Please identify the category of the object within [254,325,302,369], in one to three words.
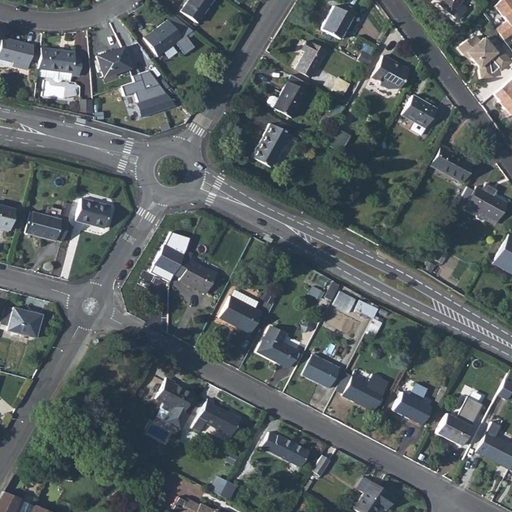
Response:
house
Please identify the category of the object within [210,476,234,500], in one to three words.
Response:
building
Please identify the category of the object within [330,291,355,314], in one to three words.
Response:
building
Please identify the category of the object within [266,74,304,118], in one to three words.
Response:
house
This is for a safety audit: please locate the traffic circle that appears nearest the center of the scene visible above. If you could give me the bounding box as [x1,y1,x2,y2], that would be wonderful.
[131,128,218,214]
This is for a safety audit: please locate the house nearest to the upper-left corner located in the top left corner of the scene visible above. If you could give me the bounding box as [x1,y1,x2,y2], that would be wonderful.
[0,38,36,70]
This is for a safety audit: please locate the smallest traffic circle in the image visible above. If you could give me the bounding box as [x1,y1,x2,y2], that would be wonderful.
[68,281,116,329]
